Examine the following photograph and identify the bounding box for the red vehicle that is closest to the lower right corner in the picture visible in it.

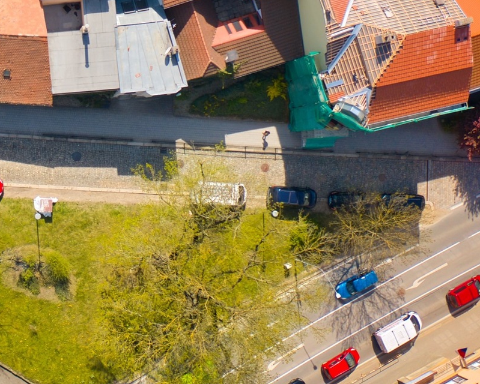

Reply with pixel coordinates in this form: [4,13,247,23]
[441,274,480,312]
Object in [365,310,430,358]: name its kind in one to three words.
van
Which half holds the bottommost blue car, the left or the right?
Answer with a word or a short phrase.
right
